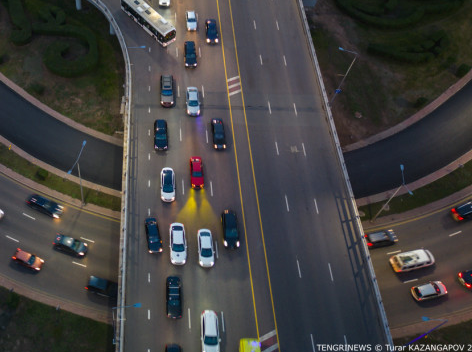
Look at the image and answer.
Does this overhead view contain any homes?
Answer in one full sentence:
No, there appears to be no home in this shot.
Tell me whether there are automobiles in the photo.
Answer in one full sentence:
Yes, there is an automobile in the image.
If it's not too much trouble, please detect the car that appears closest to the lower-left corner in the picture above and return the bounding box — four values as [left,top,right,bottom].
[11,248,45,272]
